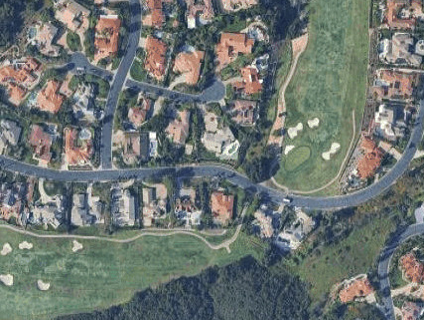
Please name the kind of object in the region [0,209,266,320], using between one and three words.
golf course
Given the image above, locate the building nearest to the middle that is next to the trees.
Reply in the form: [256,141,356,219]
[195,120,238,157]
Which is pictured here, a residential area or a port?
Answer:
residential area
